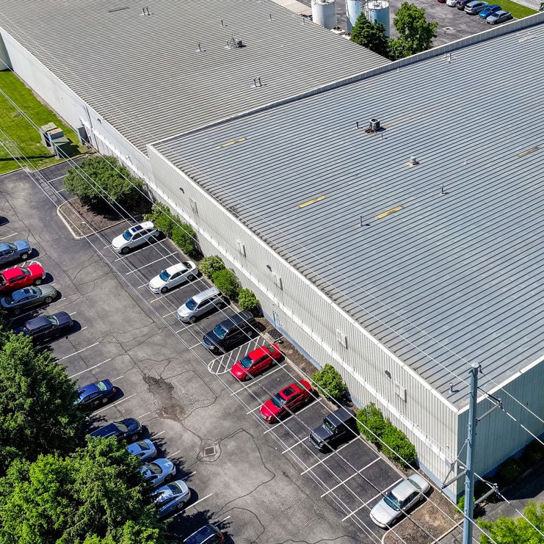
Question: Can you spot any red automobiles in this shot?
Yes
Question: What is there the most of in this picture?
buildings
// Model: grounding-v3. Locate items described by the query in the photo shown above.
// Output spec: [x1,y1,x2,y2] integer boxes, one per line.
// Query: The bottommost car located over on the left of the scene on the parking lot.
[185,512,246,544]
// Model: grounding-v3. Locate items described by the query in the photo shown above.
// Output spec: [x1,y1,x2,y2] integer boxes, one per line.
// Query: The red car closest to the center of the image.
[228,347,285,384]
